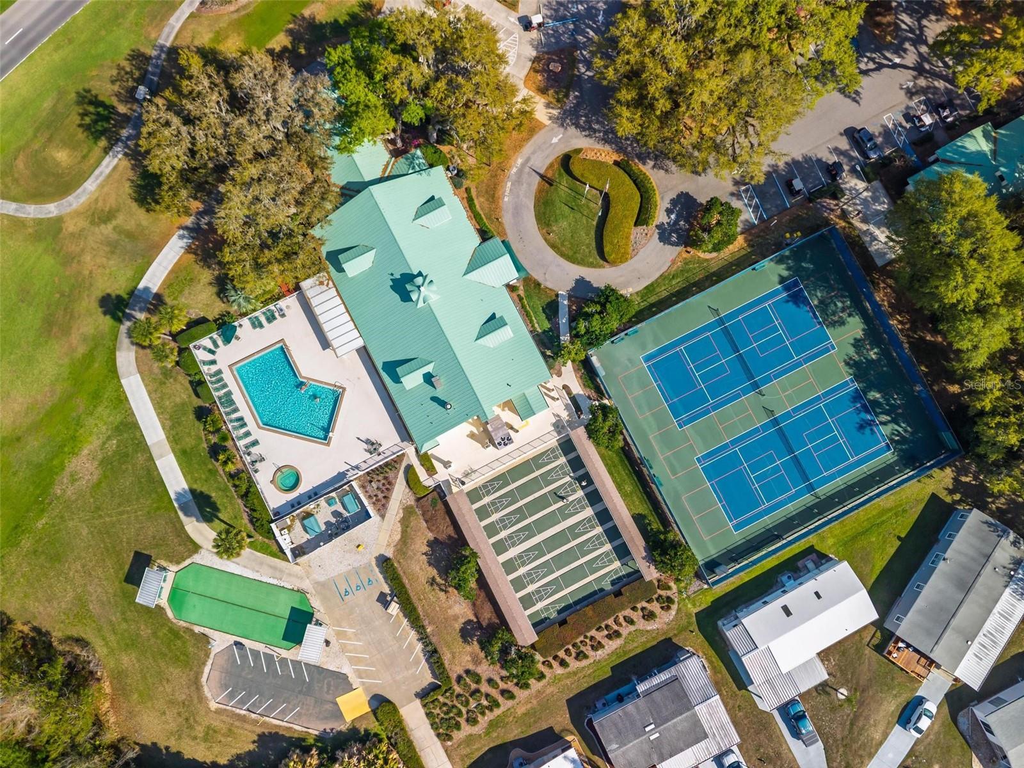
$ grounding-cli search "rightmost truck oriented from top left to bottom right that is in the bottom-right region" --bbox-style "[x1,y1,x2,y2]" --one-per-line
[788,700,821,743]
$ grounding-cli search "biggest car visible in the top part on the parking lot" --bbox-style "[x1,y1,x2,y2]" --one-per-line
[856,122,883,158]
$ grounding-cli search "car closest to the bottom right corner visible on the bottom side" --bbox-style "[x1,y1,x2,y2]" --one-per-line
[908,698,937,735]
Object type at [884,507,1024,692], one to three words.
house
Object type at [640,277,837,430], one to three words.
tennis court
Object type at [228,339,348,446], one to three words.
swimming pool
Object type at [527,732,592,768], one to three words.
house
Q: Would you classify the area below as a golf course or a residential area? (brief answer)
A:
residential area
